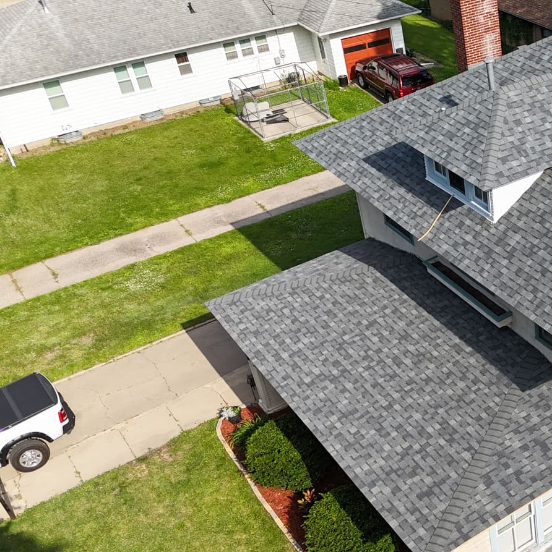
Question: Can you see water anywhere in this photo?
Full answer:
No, there is no water in the image.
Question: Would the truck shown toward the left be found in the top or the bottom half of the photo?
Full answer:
It is in the bottom half that the truck shown toward the left appears.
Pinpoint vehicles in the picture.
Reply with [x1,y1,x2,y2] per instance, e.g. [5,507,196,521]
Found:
[0,368,88,470]
[349,55,437,103]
